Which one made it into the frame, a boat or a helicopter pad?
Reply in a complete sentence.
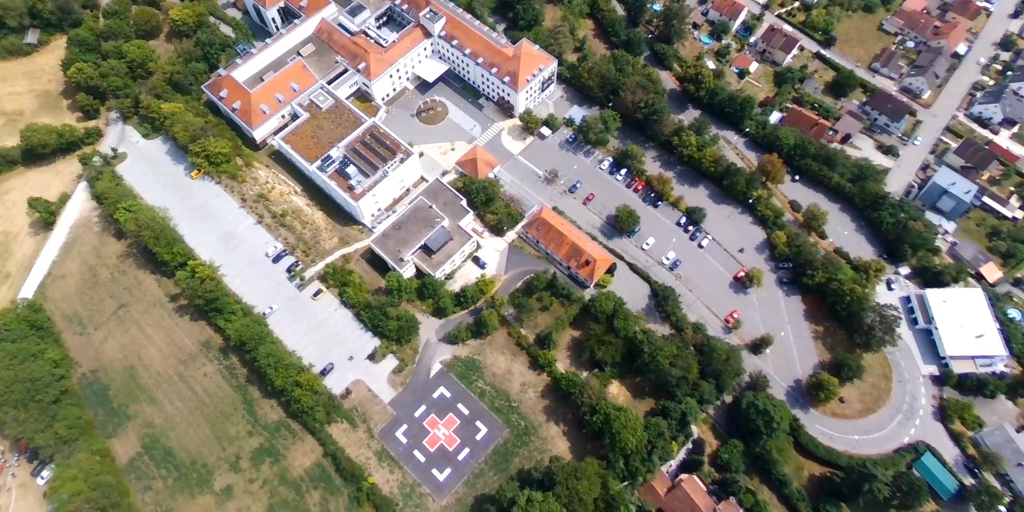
Of the two, only a helicopter pad appears.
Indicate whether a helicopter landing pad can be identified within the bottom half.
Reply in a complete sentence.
Yes, looking within the bottom half, one can make out a helicopter landing pad.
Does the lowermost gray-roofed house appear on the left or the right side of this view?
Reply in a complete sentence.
It is on the right.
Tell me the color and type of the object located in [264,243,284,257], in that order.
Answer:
white car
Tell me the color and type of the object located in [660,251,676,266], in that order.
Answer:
white car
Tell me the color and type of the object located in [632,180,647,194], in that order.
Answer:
red car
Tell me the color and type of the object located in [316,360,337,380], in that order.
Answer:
gray car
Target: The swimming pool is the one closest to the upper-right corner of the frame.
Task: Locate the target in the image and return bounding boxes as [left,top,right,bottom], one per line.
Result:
[735,25,753,39]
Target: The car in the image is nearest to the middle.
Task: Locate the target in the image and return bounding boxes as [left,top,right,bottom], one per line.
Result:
[470,253,489,270]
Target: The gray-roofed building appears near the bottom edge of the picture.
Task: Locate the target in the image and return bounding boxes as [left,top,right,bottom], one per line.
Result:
[969,415,1024,504]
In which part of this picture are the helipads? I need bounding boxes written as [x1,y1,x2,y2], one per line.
[376,363,508,503]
